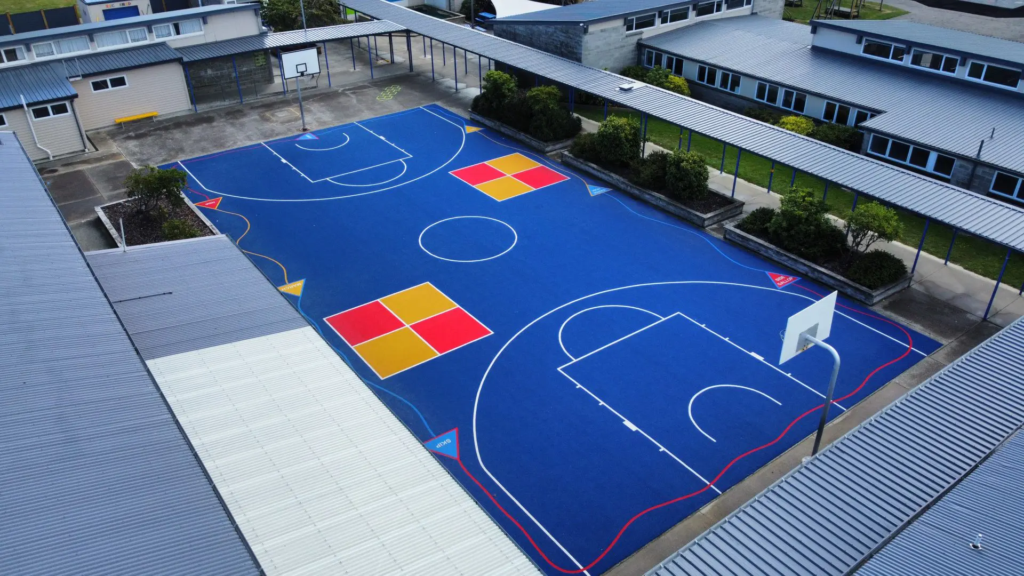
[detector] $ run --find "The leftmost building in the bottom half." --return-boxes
[0,130,266,576]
